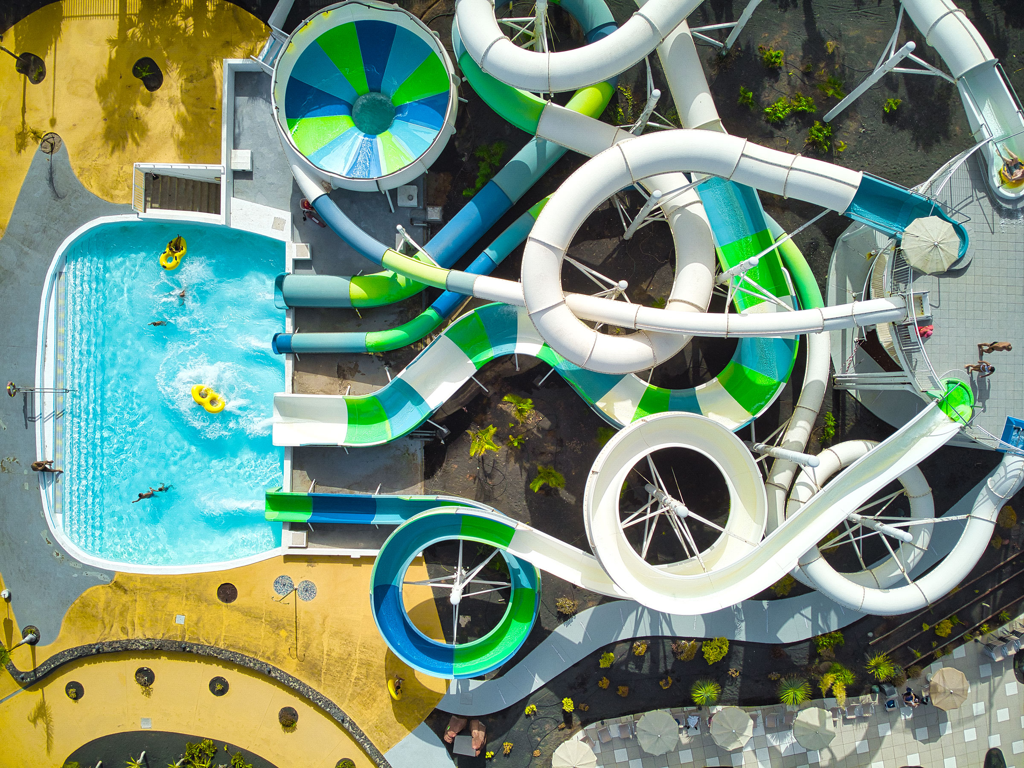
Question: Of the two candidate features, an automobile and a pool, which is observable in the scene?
pool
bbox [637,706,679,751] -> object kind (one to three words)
umbrella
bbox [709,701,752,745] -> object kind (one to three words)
umbrella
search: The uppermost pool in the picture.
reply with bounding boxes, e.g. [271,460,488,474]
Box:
[356,94,397,135]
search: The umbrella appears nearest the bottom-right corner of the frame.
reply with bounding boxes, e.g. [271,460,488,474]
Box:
[922,664,965,707]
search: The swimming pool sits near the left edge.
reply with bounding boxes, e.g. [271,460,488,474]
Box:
[34,213,286,575]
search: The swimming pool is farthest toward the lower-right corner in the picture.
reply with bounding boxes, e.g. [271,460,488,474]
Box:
[982,413,1024,456]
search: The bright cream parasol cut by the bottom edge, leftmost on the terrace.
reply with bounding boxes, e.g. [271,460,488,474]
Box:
[552,735,595,768]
